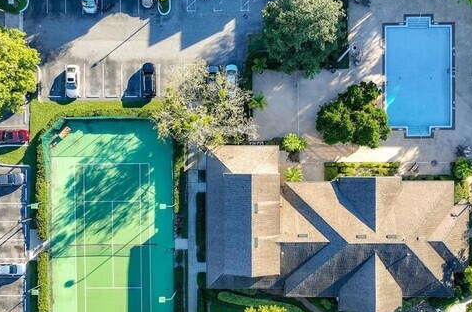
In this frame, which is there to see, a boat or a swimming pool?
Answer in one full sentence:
Of the two, only a swimming pool appears.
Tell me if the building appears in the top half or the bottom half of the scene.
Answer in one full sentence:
The building sits in the bottom half of the picture.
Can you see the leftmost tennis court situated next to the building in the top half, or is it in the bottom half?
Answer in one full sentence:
The leftmost tennis court situated next to the building is in the bottom half of the image.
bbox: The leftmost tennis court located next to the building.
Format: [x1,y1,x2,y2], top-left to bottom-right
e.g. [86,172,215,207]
[51,120,173,312]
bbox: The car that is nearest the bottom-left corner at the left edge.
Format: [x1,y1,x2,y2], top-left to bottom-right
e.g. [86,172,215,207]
[0,262,28,277]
